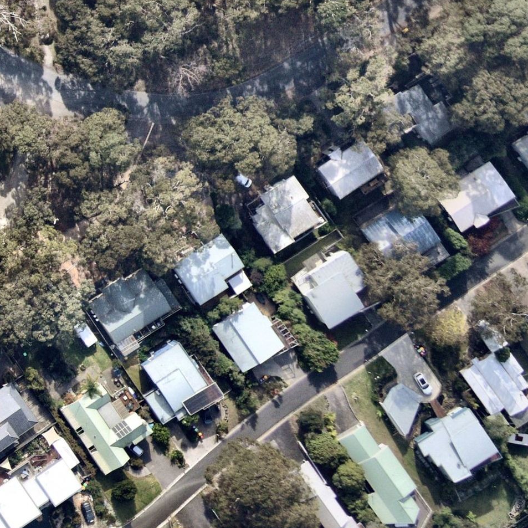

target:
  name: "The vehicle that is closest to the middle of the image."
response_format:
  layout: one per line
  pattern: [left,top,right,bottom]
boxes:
[254,286,267,306]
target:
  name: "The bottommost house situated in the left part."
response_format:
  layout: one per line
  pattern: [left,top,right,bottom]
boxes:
[0,437,83,528]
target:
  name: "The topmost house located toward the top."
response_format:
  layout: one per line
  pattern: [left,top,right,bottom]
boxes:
[395,77,452,141]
